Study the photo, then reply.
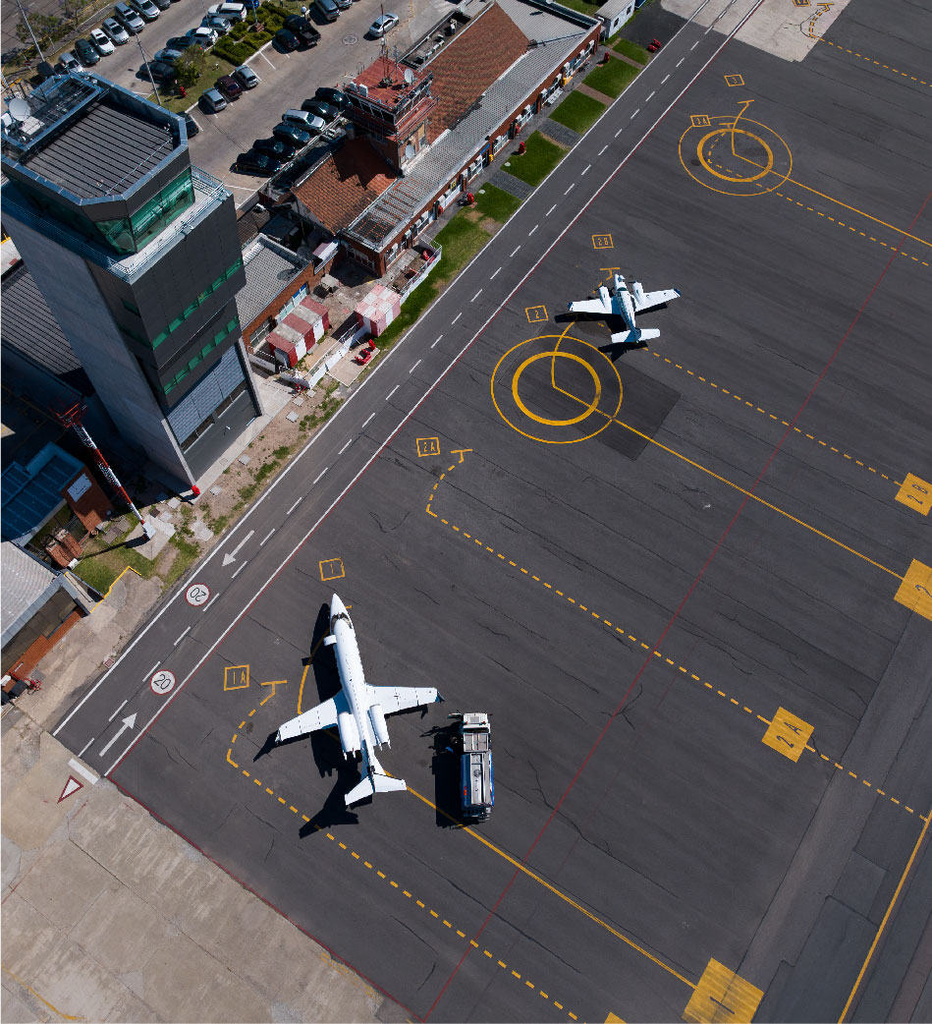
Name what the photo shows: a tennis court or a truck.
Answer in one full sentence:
Visible in the photo is a truck.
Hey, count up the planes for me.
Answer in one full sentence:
The picture shows 2 planes.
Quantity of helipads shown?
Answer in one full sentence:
My tally gives 2 helipads in this view.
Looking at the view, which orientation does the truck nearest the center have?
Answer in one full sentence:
The truck nearest the center has been laid out vertically relative to the frame.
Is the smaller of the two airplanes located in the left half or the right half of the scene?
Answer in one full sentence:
You can find the smaller of the two airplanes on the right side of the picture.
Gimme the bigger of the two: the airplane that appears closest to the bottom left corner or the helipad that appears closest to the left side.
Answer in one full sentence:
Compared with the helipad, the airplane is the larger one.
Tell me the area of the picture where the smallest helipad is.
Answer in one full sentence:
The smallest helipad is in the top right part of the image.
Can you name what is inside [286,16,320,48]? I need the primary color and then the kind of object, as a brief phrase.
black car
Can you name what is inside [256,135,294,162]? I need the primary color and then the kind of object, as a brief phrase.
black car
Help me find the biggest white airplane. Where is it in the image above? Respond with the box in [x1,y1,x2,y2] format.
[276,594,443,805]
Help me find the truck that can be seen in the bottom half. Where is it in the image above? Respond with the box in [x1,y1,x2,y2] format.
[450,714,495,824]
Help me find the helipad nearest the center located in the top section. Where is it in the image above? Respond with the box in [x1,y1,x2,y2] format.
[491,334,623,444]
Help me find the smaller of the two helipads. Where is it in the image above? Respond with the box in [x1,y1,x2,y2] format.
[679,115,792,196]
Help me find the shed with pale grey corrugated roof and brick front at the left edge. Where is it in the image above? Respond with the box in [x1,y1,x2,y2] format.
[0,527,89,696]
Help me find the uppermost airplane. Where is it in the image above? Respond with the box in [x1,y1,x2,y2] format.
[567,271,683,343]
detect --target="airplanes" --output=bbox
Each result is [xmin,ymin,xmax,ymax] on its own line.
[567,271,683,343]
[276,594,443,805]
